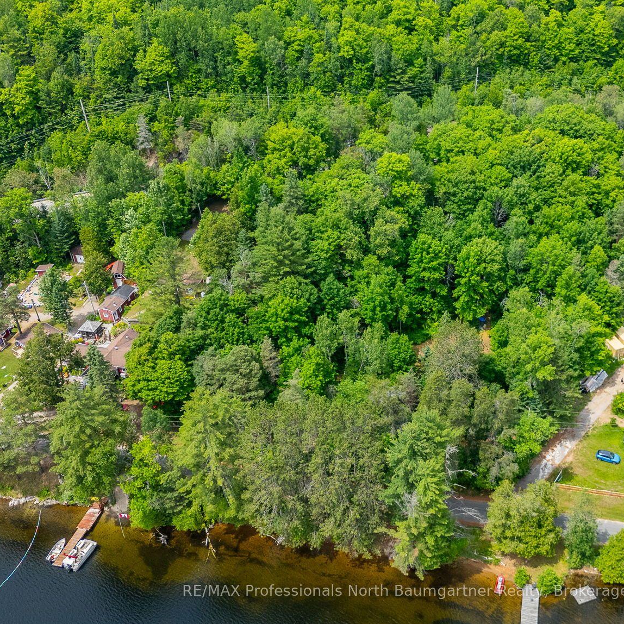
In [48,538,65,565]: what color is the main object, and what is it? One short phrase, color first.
white boat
